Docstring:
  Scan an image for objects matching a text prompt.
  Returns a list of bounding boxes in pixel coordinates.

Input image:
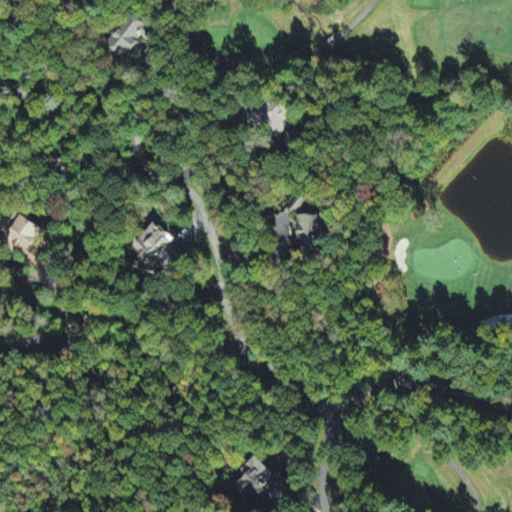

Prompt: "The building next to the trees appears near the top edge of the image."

[106,17,149,52]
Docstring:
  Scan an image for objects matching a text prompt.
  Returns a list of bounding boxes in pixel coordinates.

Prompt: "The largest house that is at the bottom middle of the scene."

[235,456,268,494]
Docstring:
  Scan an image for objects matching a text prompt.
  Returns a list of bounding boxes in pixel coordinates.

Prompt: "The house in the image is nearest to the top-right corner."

[266,104,286,132]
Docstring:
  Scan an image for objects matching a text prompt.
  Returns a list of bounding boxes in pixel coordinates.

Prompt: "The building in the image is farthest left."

[8,214,38,252]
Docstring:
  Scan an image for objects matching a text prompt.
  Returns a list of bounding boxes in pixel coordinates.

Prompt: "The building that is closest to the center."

[292,214,316,236]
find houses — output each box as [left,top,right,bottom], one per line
[129,221,174,262]
[266,104,286,132]
[235,456,268,494]
[292,214,316,236]
[106,17,149,52]
[8,214,38,252]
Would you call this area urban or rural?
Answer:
rural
